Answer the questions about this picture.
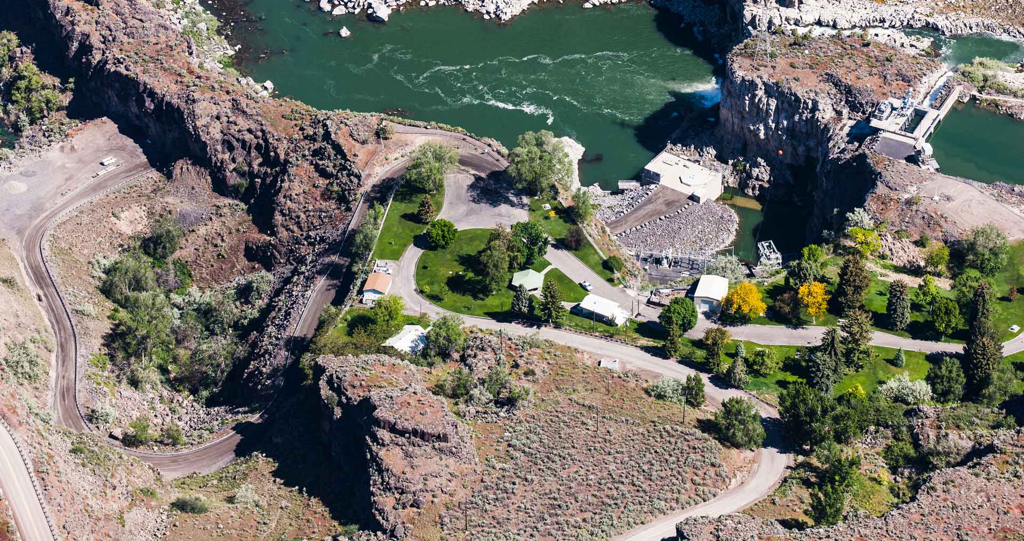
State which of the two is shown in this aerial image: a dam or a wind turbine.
dam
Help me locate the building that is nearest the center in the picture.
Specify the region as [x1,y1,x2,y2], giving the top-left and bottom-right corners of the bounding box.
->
[511,269,545,293]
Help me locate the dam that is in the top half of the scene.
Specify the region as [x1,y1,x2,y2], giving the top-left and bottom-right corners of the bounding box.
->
[867,86,963,144]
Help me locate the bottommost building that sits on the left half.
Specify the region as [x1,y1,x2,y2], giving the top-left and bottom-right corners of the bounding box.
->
[381,325,427,357]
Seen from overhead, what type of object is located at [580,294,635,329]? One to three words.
building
